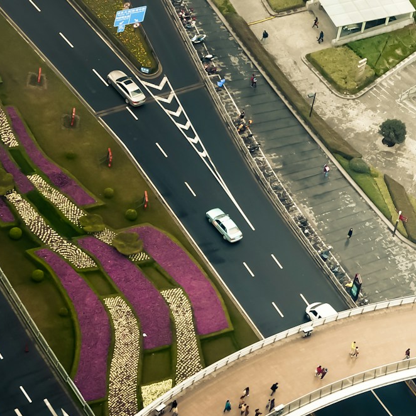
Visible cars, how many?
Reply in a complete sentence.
The picture shows 3 cars.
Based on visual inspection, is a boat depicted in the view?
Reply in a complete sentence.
No, the scene contains no boat.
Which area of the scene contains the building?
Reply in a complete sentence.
Look in the top right portion of the view to spot the building.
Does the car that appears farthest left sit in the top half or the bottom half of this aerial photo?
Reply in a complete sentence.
It is in the top half that the car that appears farthest left appears.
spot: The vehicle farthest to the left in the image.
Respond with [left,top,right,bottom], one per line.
[106,71,146,107]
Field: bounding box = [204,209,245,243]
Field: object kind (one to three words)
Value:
car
